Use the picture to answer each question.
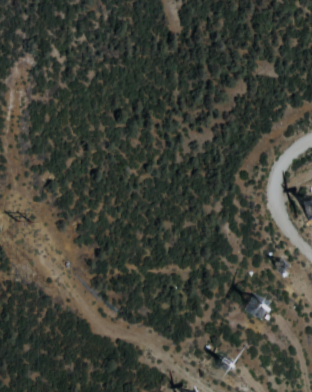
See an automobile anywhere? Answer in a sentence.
No, the picture doesn't show any automobile.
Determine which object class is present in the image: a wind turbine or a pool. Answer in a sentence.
Of the two, only a wind turbine appears.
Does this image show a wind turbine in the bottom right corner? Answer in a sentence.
Yes, a wind turbine can be seen in the bottom right corner.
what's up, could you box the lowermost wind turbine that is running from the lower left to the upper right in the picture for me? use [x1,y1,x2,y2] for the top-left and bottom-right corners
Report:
[218,346,246,376]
